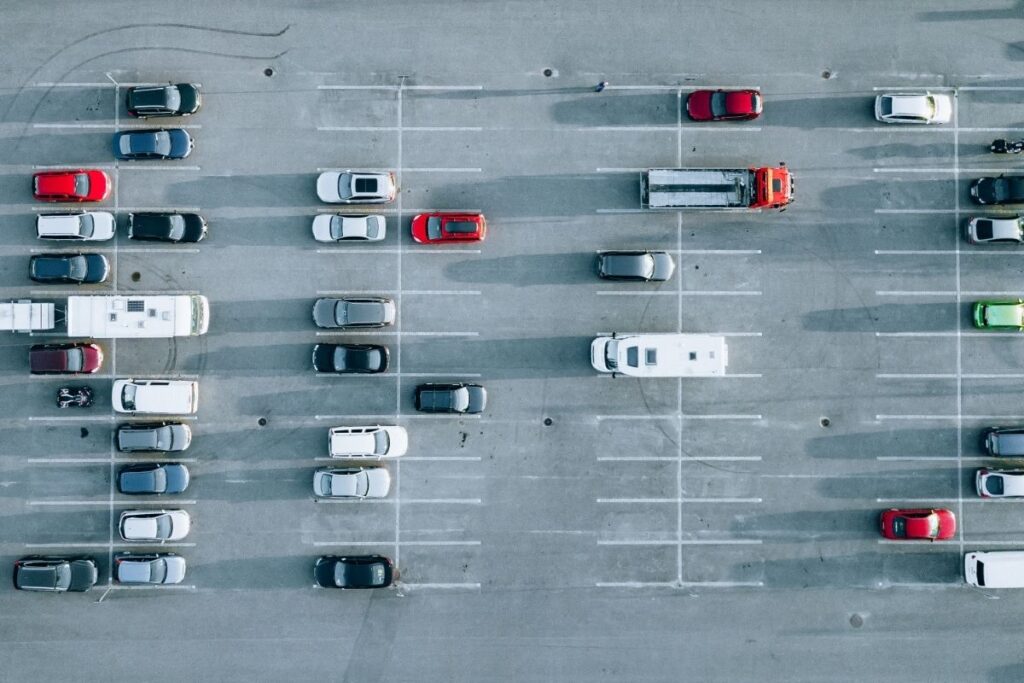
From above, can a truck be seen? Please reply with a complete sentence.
Yes, a truck can be made out from above.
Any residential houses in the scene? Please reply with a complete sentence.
No, no residential house is visible in the view.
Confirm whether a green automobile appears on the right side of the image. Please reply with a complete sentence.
Yes, I can see a green automobile on the right side of the image.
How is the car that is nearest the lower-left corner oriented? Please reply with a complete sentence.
The car that is nearest the lower-left corner runs from left to right in the image.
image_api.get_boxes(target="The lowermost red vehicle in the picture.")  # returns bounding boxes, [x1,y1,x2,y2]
[879,507,957,544]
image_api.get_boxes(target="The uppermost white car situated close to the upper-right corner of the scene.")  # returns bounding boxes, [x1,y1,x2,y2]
[874,90,953,126]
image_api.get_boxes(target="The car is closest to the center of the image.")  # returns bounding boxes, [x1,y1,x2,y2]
[416,381,487,417]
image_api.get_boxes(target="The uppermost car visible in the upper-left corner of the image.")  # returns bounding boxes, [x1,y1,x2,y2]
[125,80,201,119]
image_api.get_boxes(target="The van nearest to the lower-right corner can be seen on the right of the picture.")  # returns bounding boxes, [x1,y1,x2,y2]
[964,550,1024,591]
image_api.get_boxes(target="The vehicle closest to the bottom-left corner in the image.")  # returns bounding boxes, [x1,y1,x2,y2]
[11,554,99,597]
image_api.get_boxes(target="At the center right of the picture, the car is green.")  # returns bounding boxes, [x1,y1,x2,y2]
[973,298,1024,332]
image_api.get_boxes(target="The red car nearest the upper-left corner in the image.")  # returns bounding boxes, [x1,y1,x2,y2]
[32,166,112,203]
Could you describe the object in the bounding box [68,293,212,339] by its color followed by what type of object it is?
white camper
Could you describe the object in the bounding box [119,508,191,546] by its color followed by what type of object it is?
white car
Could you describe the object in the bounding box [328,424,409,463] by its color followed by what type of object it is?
white car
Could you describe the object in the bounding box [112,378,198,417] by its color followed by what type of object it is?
white van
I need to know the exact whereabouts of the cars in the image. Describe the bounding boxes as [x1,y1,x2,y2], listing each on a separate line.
[27,250,110,286]
[126,209,207,245]
[314,552,394,593]
[980,425,1024,457]
[974,466,1024,499]
[879,507,957,544]
[874,90,953,126]
[969,172,1024,207]
[27,341,104,378]
[312,211,387,245]
[32,166,112,203]
[112,125,194,162]
[316,168,396,205]
[312,465,390,502]
[598,248,675,284]
[411,209,486,246]
[114,551,186,589]
[115,421,192,457]
[313,294,396,331]
[416,381,487,417]
[973,298,1024,332]
[125,80,201,119]
[966,213,1024,247]
[116,462,190,498]
[328,424,409,463]
[35,208,117,243]
[119,508,191,546]
[686,86,764,123]
[313,341,390,377]
[11,554,99,597]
